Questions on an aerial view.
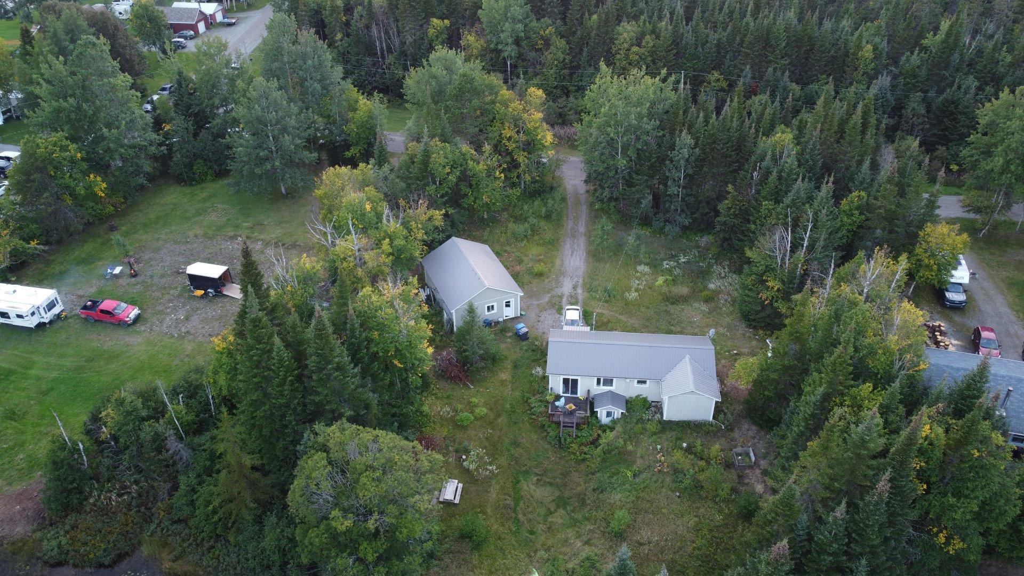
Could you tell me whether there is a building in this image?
Yes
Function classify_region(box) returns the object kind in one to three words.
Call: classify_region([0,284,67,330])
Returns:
trailer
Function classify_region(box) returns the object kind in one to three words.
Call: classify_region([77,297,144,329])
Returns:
truck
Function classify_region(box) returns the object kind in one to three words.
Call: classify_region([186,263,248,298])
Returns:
trailer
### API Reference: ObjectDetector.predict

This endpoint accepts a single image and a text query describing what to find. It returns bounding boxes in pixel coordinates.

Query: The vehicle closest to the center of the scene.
[564,306,589,328]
